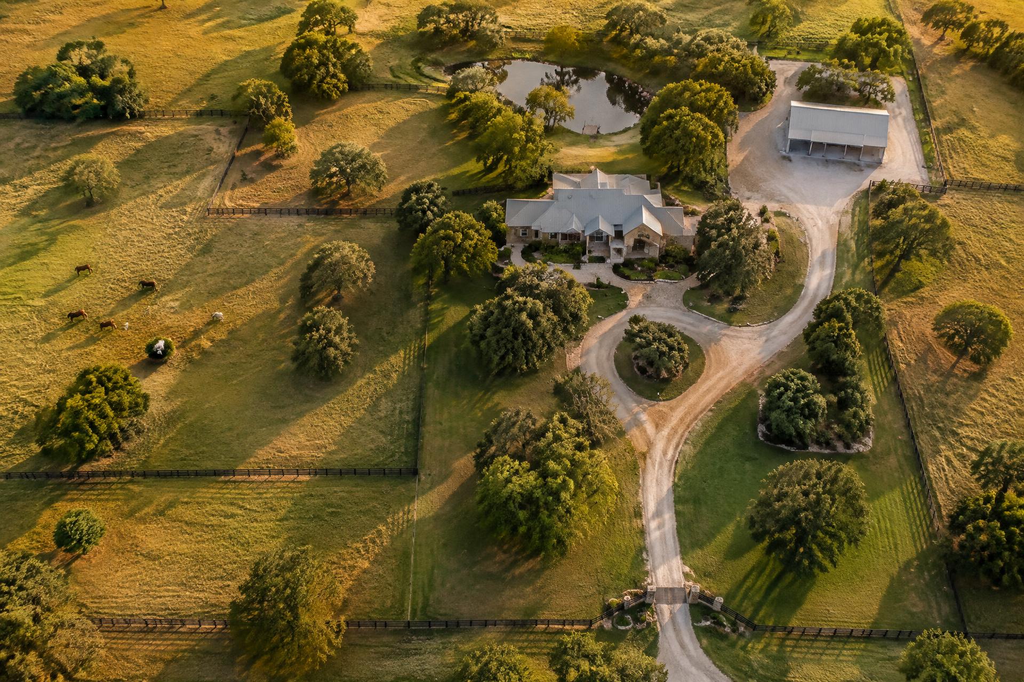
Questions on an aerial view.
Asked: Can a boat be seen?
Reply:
No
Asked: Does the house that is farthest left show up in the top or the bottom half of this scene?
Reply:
top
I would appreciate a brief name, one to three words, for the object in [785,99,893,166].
shed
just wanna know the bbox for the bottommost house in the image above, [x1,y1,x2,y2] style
[505,163,696,264]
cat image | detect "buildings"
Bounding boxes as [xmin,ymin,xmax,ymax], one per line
[785,99,893,166]
[505,163,696,264]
